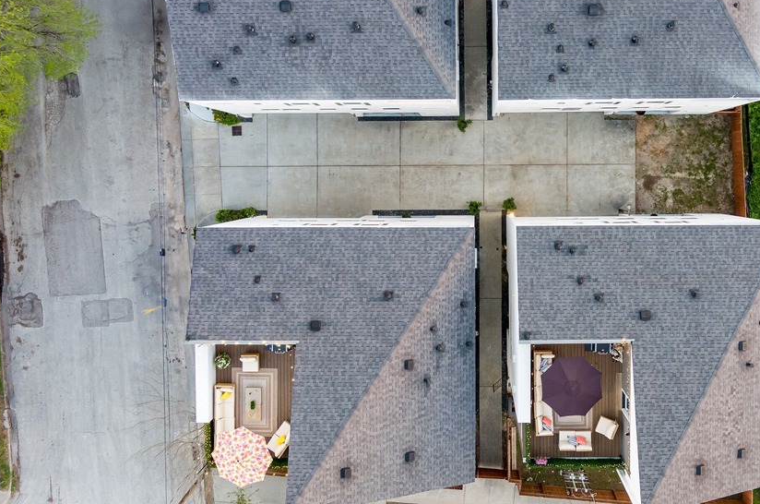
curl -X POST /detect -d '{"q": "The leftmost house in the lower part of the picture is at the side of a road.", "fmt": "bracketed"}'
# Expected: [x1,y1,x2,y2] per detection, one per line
[183,216,477,504]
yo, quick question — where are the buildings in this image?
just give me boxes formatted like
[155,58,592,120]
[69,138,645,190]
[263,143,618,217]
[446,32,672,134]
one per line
[507,213,760,504]
[492,0,760,115]
[168,0,460,115]
[183,216,477,504]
